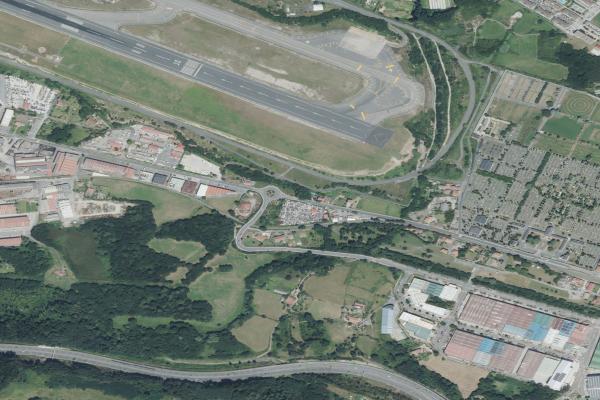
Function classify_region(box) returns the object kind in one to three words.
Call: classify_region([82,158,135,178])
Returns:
shed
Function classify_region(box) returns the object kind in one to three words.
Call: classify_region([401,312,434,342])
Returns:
building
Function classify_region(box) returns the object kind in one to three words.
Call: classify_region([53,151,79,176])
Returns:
shed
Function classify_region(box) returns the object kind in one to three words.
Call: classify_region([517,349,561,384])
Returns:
building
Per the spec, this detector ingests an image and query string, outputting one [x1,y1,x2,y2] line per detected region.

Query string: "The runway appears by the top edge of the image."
[1,0,376,143]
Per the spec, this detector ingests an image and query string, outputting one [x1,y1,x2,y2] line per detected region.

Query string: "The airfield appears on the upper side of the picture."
[0,0,426,174]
